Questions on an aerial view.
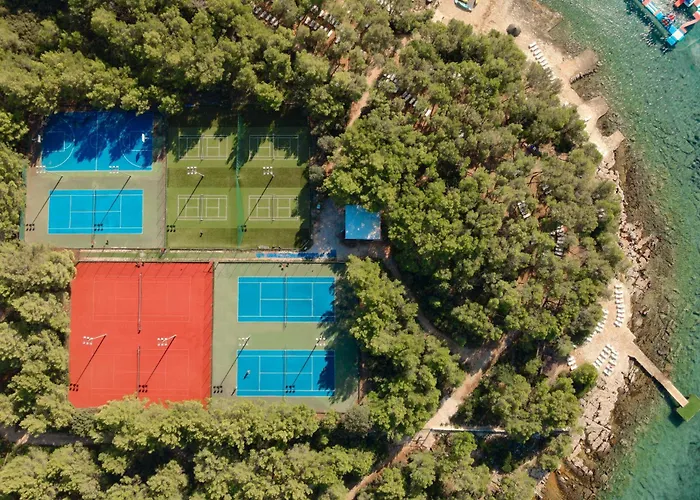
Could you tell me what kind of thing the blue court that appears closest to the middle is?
tennis court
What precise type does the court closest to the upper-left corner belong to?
basketball court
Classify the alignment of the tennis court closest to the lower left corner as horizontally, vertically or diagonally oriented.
horizontally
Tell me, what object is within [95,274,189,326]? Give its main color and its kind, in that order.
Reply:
red tennis court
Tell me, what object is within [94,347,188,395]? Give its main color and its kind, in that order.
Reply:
red tennis court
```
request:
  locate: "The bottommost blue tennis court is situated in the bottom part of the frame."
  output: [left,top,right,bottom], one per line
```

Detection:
[239,349,334,400]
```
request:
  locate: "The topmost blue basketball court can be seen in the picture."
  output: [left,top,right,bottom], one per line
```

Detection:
[42,112,152,171]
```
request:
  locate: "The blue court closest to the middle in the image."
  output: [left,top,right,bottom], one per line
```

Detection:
[239,274,334,326]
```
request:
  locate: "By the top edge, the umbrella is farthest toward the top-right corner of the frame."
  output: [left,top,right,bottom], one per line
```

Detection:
[507,18,523,34]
